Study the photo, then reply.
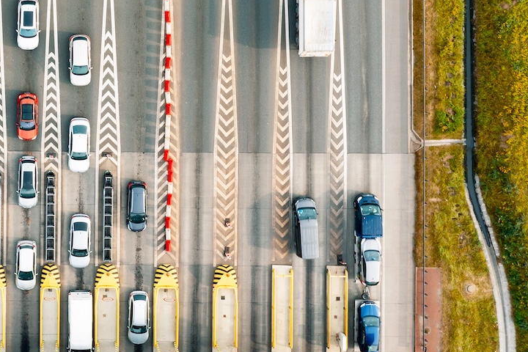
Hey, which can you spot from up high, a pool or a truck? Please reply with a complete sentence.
The one in the frame is a truck.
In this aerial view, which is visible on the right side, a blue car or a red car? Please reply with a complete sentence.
There is a blue car on the right side.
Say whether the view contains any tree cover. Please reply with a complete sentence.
No, there's no tree cover in this view.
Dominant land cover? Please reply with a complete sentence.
The scene is dominated by paved ground.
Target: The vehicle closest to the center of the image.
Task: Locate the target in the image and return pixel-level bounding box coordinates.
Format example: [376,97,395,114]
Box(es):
[292,196,323,261]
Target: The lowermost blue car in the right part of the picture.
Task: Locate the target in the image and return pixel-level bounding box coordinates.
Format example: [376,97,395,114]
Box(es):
[356,300,385,352]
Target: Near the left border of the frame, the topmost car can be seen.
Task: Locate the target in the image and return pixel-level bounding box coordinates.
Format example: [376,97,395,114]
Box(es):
[15,0,39,49]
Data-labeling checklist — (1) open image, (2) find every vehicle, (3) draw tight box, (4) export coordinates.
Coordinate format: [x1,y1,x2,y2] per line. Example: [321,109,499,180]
[15,92,38,140]
[14,240,37,290]
[15,0,39,49]
[68,34,90,86]
[126,289,149,345]
[66,116,90,172]
[354,194,385,290]
[15,156,39,208]
[292,196,323,261]
[68,212,92,267]
[356,300,385,352]
[358,242,386,287]
[290,0,333,57]
[125,180,148,232]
